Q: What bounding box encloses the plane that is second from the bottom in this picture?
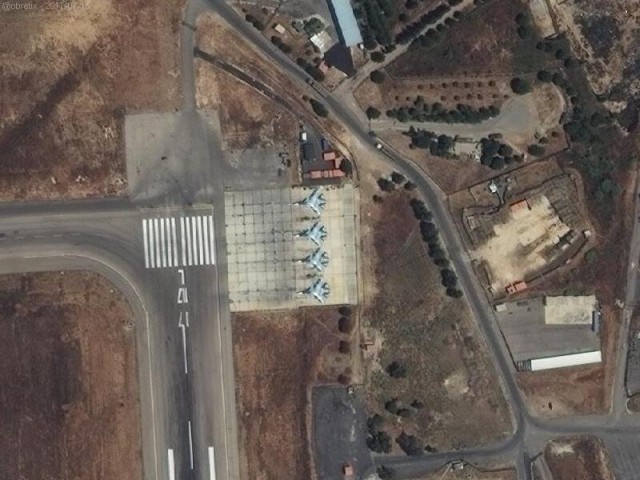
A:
[296,248,328,273]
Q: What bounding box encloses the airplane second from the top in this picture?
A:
[294,221,328,248]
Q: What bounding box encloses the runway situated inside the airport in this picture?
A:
[0,193,240,480]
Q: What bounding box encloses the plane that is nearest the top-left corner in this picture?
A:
[294,188,328,214]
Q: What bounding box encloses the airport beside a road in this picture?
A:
[0,0,358,480]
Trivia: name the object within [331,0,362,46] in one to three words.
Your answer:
hangar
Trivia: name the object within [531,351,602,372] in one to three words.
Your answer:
shed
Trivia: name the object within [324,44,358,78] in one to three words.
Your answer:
building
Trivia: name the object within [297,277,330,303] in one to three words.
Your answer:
airplane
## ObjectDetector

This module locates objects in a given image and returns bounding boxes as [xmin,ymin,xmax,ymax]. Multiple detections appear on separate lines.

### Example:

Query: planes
[296,248,328,273]
[294,221,328,248]
[294,188,328,214]
[297,277,330,303]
